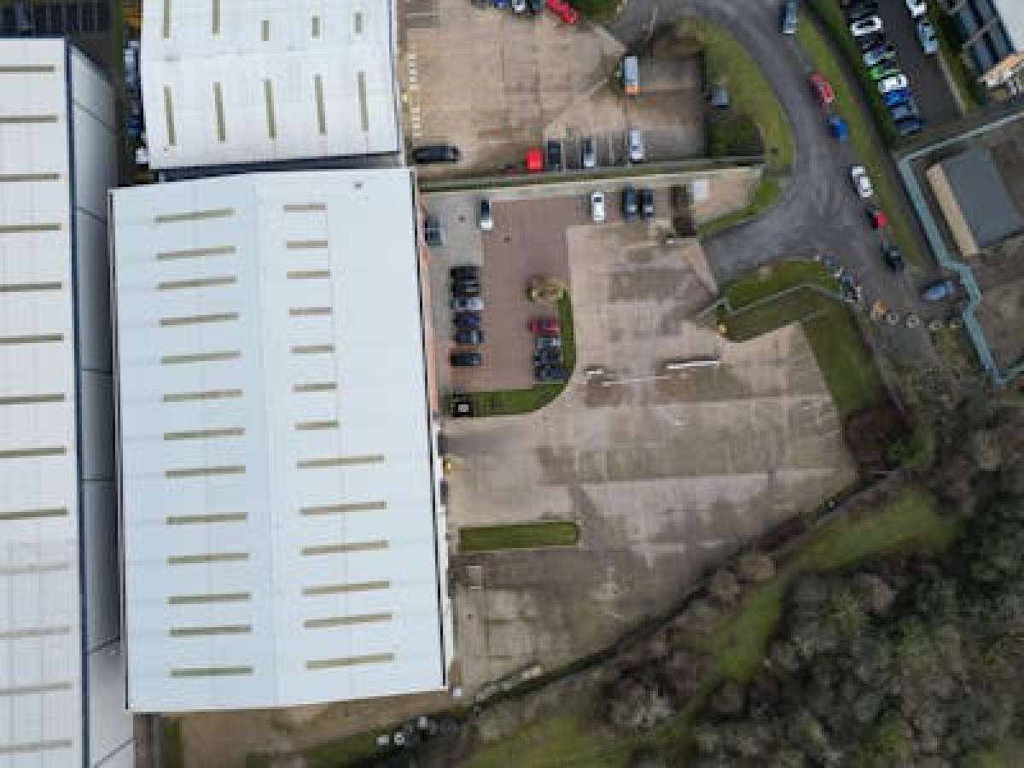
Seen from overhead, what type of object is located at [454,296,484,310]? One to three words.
car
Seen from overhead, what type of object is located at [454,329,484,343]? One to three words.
car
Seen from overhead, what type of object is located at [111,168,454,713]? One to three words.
warehouse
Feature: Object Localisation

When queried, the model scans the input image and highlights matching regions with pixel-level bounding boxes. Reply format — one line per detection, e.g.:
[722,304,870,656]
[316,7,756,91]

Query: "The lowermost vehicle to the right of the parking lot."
[920,282,953,300]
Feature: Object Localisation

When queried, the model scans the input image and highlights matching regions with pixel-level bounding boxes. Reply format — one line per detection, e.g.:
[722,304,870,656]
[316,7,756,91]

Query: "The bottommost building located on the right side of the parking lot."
[928,143,1024,253]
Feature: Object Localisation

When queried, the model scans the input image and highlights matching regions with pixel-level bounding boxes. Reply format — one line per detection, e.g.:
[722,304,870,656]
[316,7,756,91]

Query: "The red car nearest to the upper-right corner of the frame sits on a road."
[807,73,833,104]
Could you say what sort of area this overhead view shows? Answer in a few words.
industrial area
